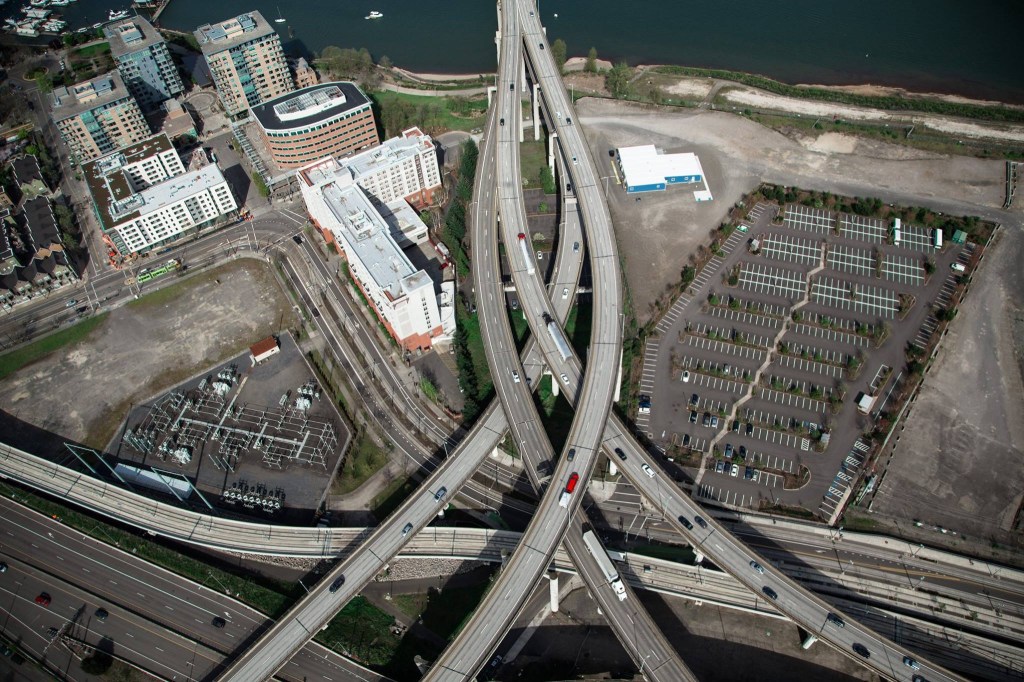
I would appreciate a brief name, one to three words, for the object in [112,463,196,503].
shed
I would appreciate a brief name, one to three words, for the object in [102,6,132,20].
boat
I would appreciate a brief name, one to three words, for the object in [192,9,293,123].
building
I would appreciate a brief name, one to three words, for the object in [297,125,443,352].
building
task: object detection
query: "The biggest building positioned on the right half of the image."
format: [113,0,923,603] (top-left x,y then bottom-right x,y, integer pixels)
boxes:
[617,145,701,193]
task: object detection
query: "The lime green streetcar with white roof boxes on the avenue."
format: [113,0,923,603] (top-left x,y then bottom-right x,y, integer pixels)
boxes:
[136,260,180,284]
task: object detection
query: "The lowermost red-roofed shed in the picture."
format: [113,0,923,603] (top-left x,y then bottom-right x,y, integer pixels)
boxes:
[249,336,280,361]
